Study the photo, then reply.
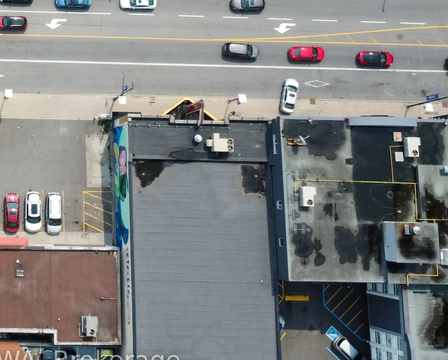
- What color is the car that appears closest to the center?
white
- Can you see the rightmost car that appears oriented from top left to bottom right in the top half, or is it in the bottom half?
bottom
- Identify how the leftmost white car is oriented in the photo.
up and down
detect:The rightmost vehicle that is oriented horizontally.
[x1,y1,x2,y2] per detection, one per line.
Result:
[355,50,394,67]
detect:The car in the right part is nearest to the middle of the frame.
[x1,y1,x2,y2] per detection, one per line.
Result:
[279,77,300,114]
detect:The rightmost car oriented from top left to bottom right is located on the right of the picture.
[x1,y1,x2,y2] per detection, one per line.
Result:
[330,331,368,360]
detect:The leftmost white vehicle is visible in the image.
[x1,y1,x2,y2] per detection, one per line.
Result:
[24,191,44,232]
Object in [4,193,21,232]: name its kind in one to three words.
car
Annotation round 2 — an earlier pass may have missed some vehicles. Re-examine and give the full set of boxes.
[55,0,92,8]
[279,77,300,114]
[45,192,64,235]
[99,348,114,360]
[330,331,368,360]
[118,0,157,10]
[24,191,44,232]
[4,193,21,232]
[223,43,260,60]
[62,348,77,360]
[228,0,267,13]
[286,45,325,62]
[0,13,27,30]
[355,50,394,67]
[41,348,56,360]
